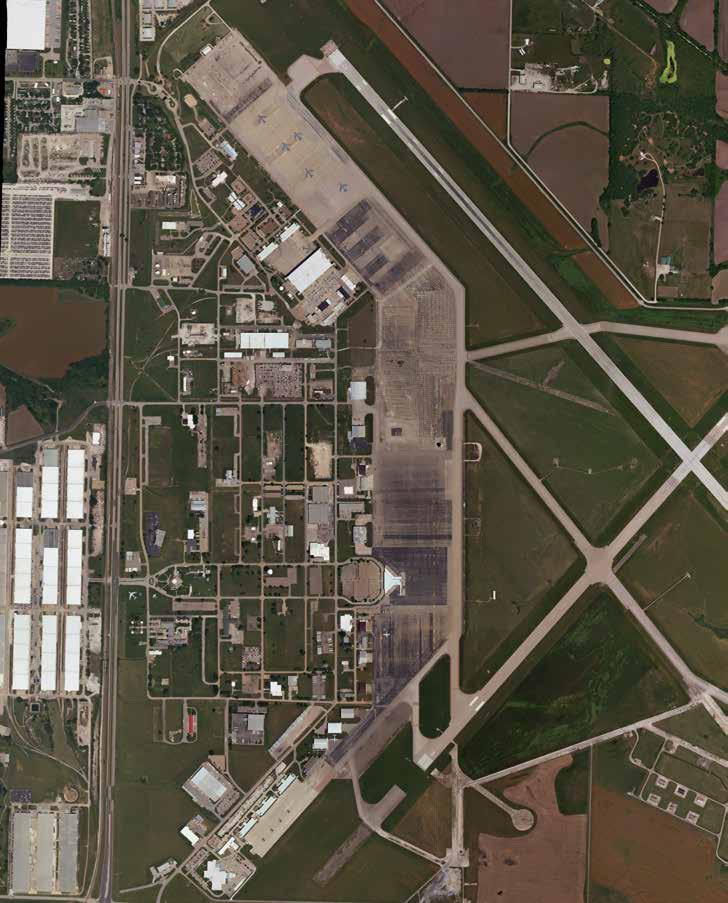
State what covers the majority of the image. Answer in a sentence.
The scene is dominated by grass.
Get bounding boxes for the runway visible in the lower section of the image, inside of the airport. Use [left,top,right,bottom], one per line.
[420,417,728,767]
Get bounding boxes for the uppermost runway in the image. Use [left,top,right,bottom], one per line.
[329,47,728,512]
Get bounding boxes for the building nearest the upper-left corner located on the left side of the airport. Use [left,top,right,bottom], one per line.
[6,0,45,49]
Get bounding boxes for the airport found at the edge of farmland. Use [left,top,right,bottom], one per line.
[183,29,728,887]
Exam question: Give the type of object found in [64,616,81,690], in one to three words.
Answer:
building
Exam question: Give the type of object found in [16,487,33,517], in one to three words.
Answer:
building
